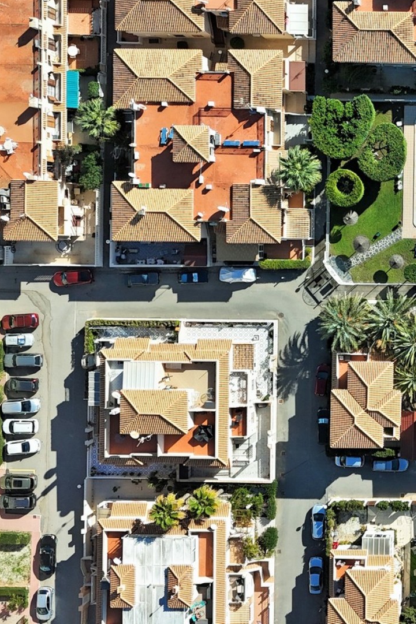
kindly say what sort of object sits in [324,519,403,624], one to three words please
house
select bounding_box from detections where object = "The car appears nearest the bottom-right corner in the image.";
[307,555,324,593]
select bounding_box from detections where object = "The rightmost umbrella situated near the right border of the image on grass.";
[389,254,404,269]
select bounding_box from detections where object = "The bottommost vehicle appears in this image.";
[36,585,58,620]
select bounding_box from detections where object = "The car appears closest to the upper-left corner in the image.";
[55,268,95,287]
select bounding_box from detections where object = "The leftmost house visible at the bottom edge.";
[96,501,269,624]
